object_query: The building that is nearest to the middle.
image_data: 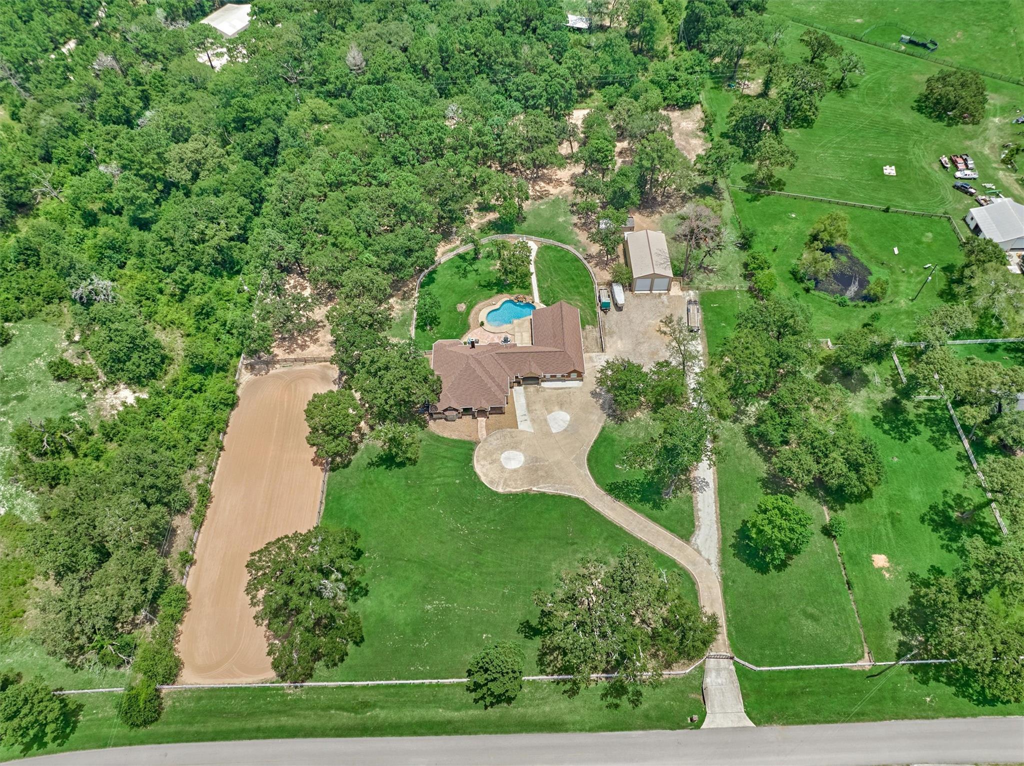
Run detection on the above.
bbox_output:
[427,302,585,422]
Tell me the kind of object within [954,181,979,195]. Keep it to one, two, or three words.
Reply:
vehicle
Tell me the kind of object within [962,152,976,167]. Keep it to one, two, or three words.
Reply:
vehicle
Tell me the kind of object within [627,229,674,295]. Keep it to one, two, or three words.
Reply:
building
